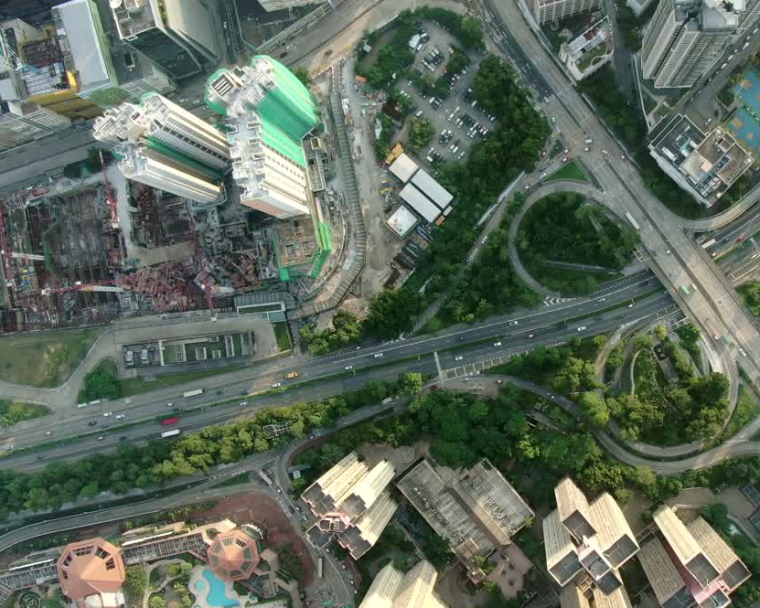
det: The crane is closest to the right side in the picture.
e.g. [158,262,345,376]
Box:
[191,216,233,322]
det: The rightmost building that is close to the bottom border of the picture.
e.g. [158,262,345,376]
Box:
[640,510,751,608]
